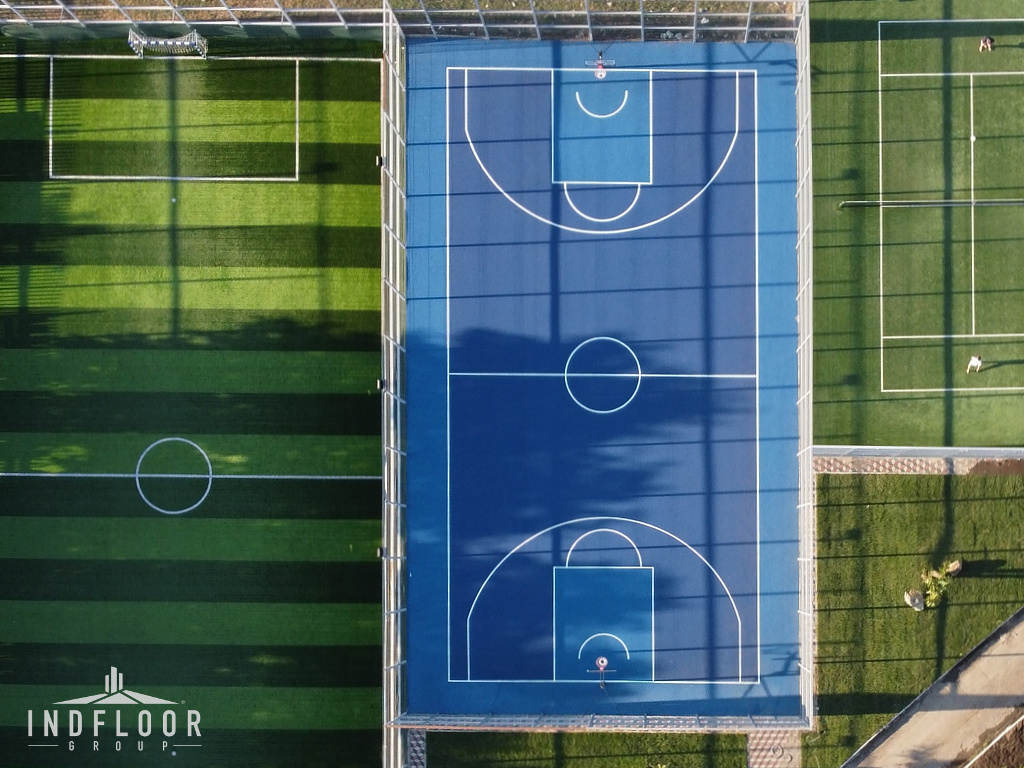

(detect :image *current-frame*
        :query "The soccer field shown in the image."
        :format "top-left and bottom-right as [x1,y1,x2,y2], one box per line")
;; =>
[0,38,385,768]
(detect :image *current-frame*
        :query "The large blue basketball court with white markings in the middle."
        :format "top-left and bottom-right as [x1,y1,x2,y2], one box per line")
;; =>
[405,38,801,717]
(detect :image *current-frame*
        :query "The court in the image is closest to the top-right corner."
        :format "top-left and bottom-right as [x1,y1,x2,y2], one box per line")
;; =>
[798,0,1024,458]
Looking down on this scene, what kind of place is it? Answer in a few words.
sports ground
